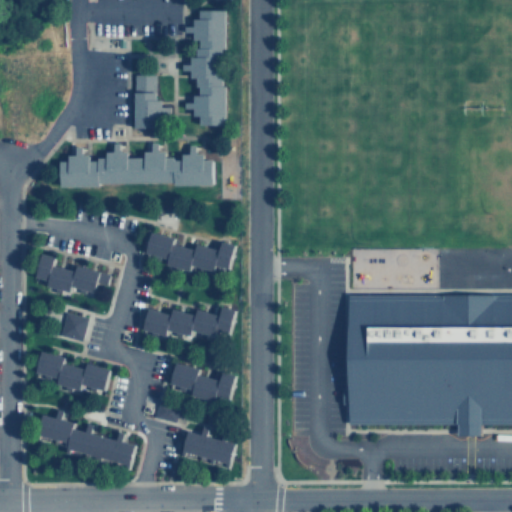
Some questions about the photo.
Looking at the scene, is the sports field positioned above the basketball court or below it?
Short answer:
above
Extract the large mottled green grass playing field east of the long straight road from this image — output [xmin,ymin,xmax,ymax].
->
[282,0,512,249]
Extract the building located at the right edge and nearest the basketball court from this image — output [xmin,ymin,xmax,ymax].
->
[347,293,512,437]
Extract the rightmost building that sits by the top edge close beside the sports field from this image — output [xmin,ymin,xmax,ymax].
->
[184,11,228,126]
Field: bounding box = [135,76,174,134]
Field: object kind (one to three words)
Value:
building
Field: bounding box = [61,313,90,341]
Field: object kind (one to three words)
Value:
building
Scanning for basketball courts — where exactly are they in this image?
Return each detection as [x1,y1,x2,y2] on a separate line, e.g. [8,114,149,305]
[438,250,512,288]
